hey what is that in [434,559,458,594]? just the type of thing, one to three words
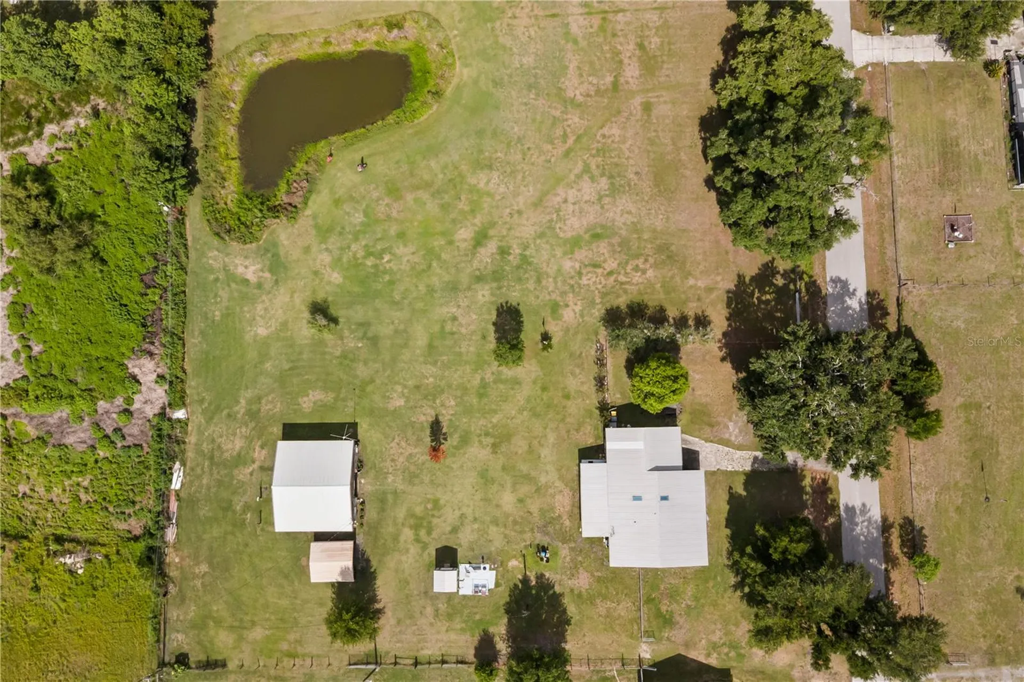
shed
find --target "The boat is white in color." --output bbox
[171,465,185,491]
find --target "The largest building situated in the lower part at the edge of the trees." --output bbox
[579,426,709,571]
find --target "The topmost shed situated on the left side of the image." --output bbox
[272,440,357,532]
